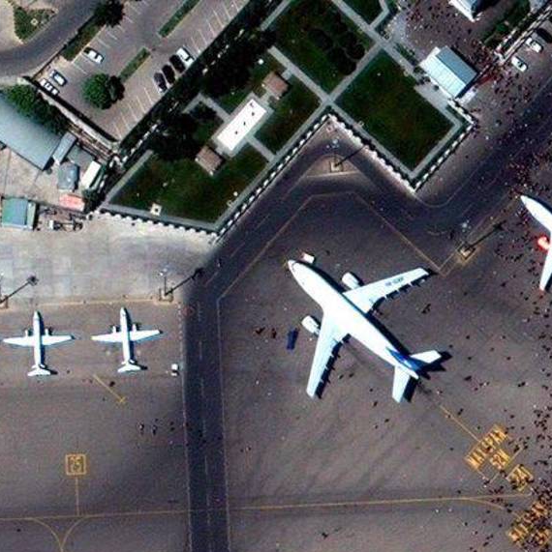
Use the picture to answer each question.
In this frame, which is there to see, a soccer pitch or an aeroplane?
aeroplane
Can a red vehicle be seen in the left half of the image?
No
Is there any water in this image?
No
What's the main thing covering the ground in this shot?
paved ground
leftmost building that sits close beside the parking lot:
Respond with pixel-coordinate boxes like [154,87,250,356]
[0,93,61,175]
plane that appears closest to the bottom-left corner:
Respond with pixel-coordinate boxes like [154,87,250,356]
[3,312,74,375]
